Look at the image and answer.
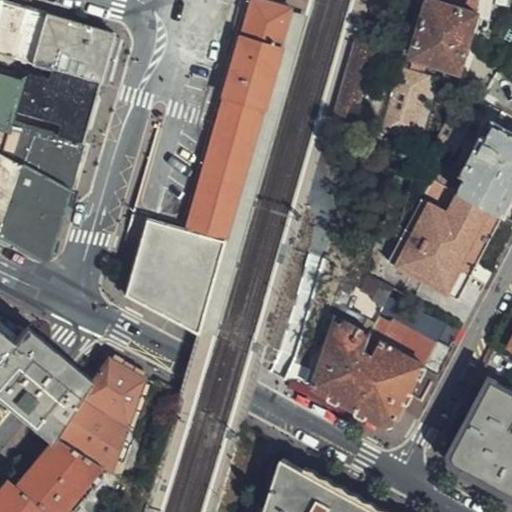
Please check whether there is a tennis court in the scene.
No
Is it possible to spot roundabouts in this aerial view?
No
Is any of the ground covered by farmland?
No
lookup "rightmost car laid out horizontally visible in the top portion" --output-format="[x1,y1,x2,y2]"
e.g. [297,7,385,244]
[188,65,211,78]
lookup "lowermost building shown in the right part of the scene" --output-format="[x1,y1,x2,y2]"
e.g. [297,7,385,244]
[260,454,394,512]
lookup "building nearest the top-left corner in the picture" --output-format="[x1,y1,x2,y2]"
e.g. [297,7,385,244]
[0,2,43,66]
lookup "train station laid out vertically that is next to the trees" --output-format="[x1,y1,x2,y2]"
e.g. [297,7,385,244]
[149,0,358,512]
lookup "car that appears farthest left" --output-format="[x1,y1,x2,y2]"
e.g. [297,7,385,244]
[2,249,24,266]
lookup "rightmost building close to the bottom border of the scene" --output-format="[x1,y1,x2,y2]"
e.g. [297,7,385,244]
[442,374,512,512]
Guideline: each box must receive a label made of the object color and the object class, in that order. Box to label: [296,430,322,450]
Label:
white vehicle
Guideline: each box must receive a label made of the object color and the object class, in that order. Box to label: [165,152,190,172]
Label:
gray car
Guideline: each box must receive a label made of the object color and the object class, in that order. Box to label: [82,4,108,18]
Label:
white vehicle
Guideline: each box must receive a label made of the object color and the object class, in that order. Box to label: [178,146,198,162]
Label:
white car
